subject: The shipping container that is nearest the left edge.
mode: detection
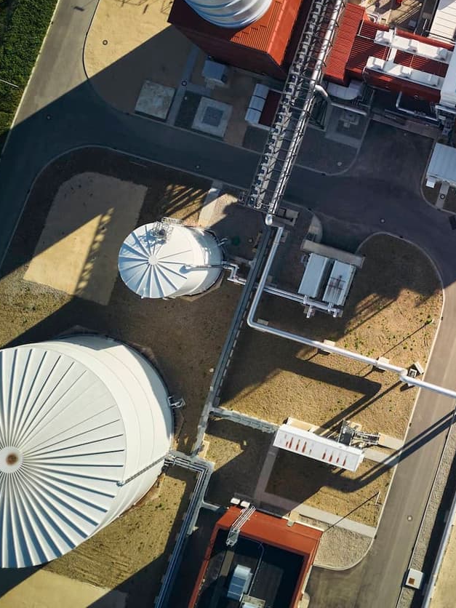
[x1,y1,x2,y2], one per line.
[297,252,334,317]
